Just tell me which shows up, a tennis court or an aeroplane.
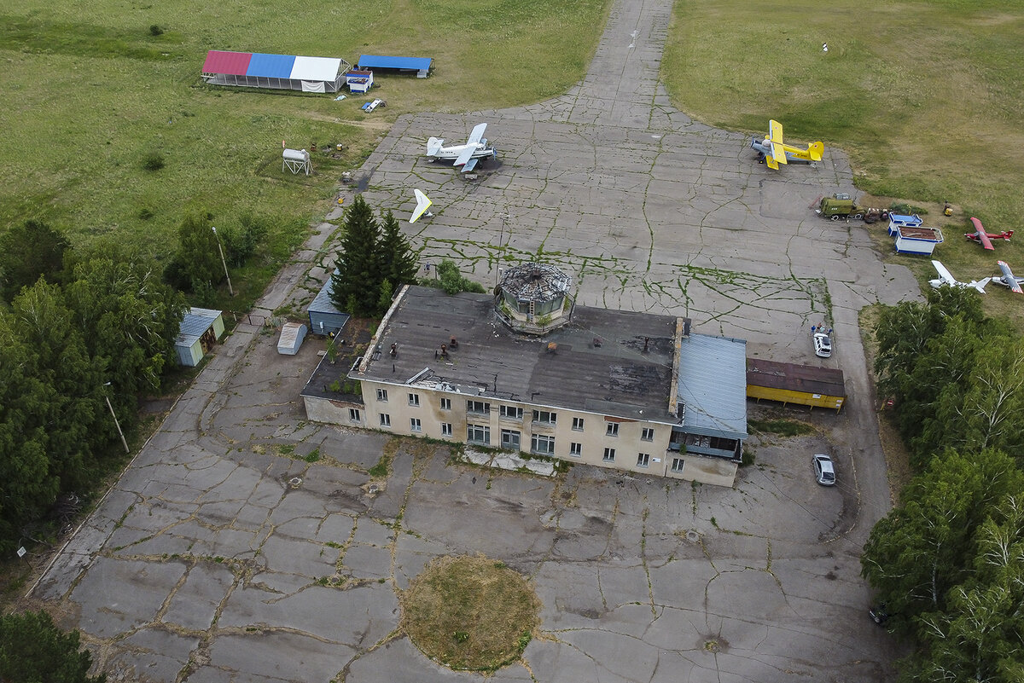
aeroplane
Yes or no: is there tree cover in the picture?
Yes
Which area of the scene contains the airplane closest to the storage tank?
top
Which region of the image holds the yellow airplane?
top right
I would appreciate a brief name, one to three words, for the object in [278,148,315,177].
storage tank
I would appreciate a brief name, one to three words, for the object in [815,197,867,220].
truck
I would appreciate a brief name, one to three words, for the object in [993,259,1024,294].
airplane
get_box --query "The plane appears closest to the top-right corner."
[965,217,1022,248]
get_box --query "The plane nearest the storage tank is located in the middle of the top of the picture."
[420,125,492,173]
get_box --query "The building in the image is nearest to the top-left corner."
[204,50,351,91]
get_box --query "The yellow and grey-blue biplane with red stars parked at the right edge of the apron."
[755,124,830,172]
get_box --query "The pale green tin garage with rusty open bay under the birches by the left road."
[173,315,224,367]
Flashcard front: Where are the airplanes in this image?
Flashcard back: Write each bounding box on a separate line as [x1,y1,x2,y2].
[420,125,492,173]
[755,124,830,172]
[926,256,995,301]
[965,217,1022,248]
[993,259,1024,294]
